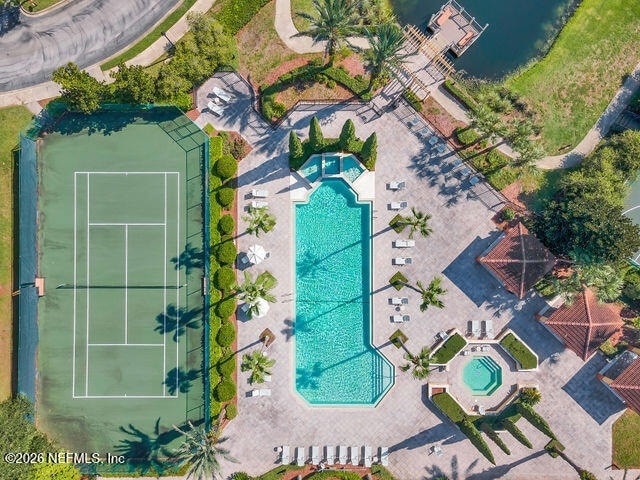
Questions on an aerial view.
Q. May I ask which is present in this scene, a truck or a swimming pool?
swimming pool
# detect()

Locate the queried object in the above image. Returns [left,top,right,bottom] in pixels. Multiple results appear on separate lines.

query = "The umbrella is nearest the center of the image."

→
[246,244,266,264]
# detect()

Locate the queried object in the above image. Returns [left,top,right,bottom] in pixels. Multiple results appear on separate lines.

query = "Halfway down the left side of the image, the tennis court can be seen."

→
[36,112,209,458]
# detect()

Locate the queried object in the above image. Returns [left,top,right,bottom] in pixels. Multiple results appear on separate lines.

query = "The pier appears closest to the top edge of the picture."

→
[420,0,488,69]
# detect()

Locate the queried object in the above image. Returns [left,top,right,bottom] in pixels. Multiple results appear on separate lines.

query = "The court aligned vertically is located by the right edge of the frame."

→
[614,161,640,271]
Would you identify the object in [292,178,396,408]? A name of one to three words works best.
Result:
swimming pool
